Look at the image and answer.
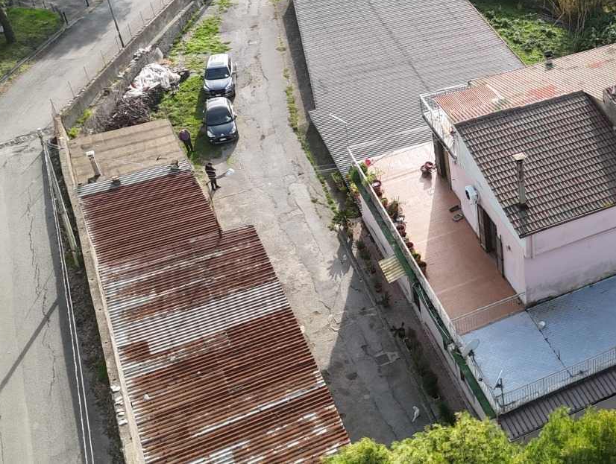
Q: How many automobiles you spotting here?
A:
two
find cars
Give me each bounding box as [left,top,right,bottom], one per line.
[198,48,238,97]
[201,93,242,144]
